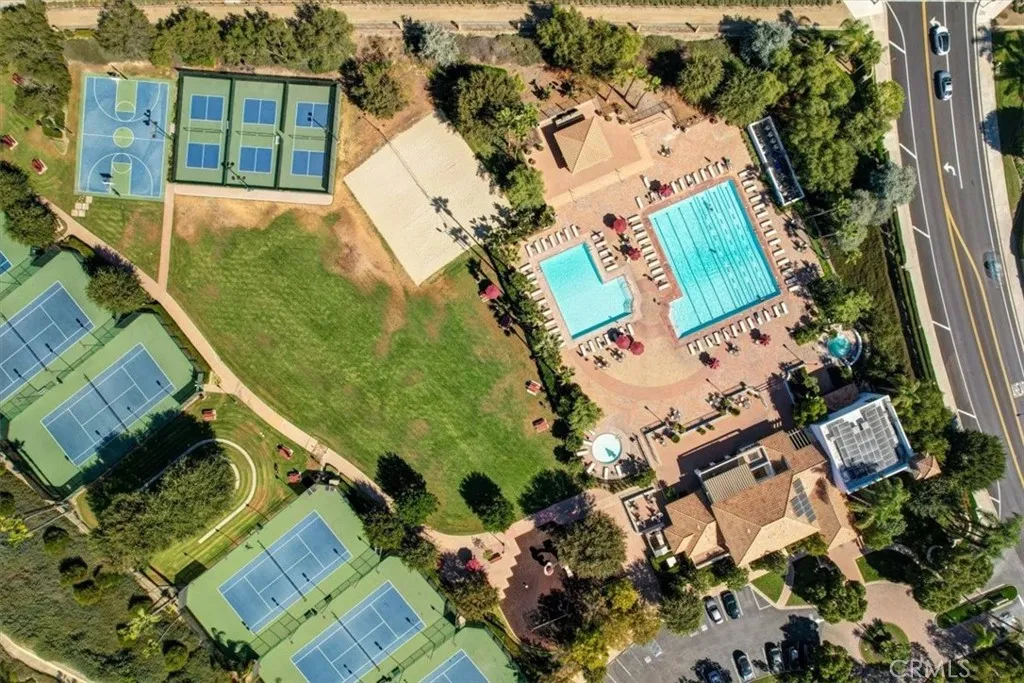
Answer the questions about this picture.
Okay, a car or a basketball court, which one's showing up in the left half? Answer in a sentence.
It is a basketball court that can be seen in the left half.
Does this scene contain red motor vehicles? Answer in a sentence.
No, there isn't any red motor vehicle down there.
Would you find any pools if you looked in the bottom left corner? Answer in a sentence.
No, I can find no pool in the bottom left corner.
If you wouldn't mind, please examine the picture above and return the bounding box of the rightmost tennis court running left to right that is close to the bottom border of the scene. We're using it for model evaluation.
[389,623,521,683]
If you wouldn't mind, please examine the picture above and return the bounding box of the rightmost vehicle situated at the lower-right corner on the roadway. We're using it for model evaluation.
[995,612,1024,632]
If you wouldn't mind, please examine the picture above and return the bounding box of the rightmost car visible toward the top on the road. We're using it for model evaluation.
[987,252,1004,279]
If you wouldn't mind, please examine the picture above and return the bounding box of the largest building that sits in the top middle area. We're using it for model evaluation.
[554,116,613,173]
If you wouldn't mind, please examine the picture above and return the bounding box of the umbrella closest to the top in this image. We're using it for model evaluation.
[661,182,676,196]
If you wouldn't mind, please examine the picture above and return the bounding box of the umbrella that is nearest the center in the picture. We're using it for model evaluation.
[482,283,498,299]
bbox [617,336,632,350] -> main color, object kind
red umbrella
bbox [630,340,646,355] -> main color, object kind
red umbrella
